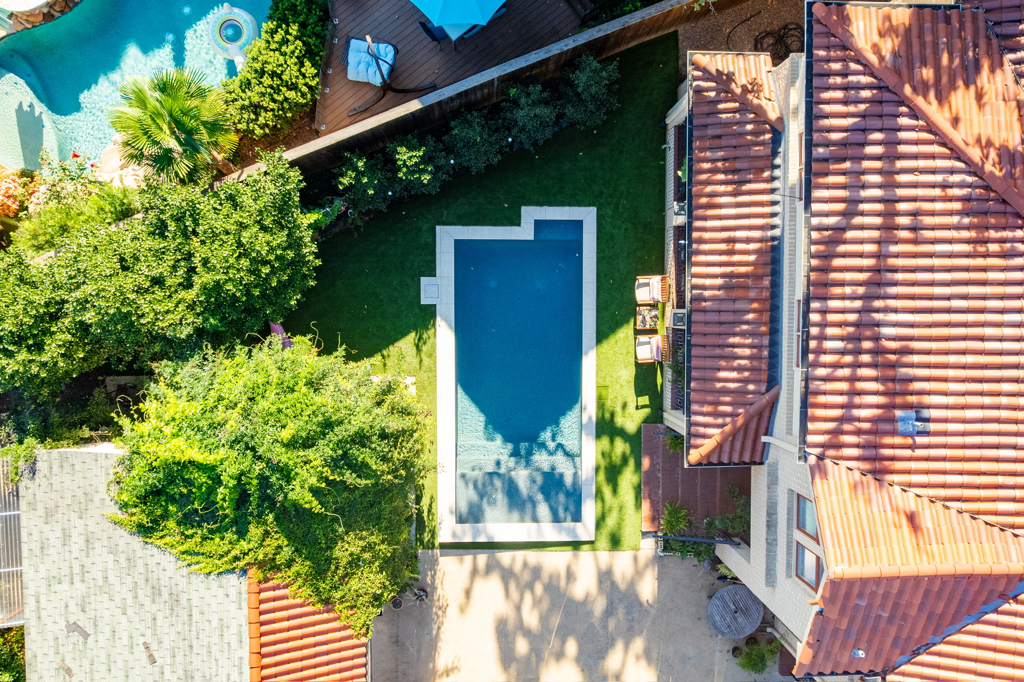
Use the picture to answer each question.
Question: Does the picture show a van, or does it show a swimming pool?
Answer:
swimming pool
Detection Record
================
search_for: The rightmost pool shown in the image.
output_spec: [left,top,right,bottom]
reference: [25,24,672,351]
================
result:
[421,207,595,542]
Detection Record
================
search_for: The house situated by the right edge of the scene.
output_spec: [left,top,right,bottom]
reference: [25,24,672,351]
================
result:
[663,0,1024,682]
